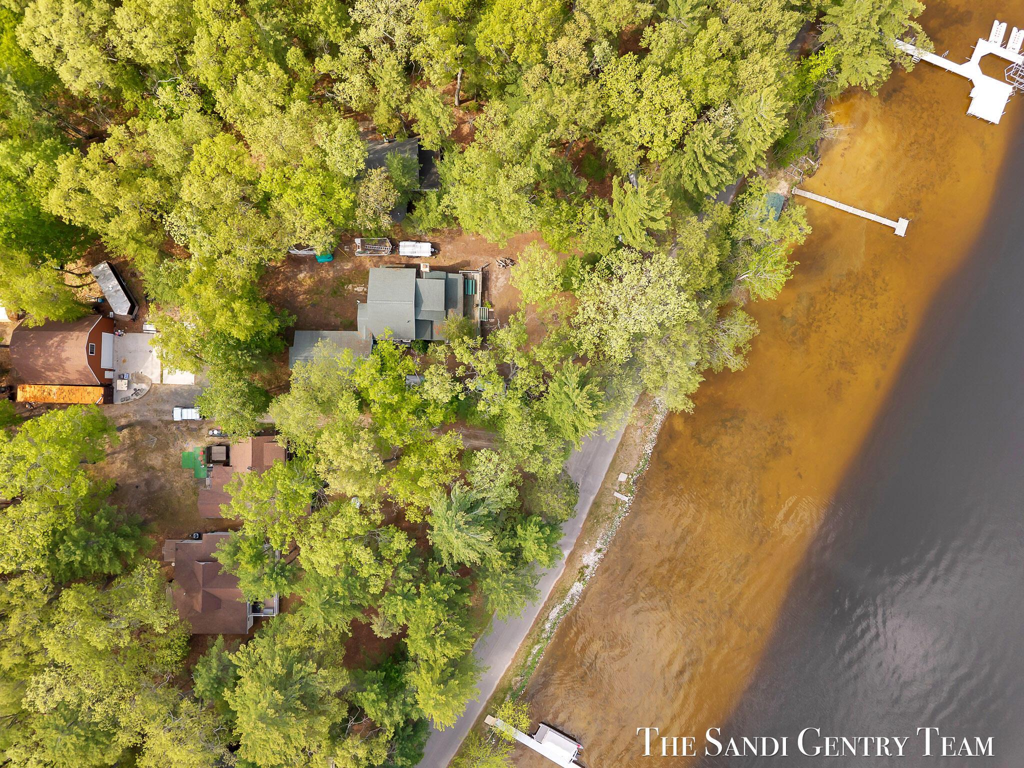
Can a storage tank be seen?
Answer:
No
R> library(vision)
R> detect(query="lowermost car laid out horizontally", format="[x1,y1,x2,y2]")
[171,407,204,422]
